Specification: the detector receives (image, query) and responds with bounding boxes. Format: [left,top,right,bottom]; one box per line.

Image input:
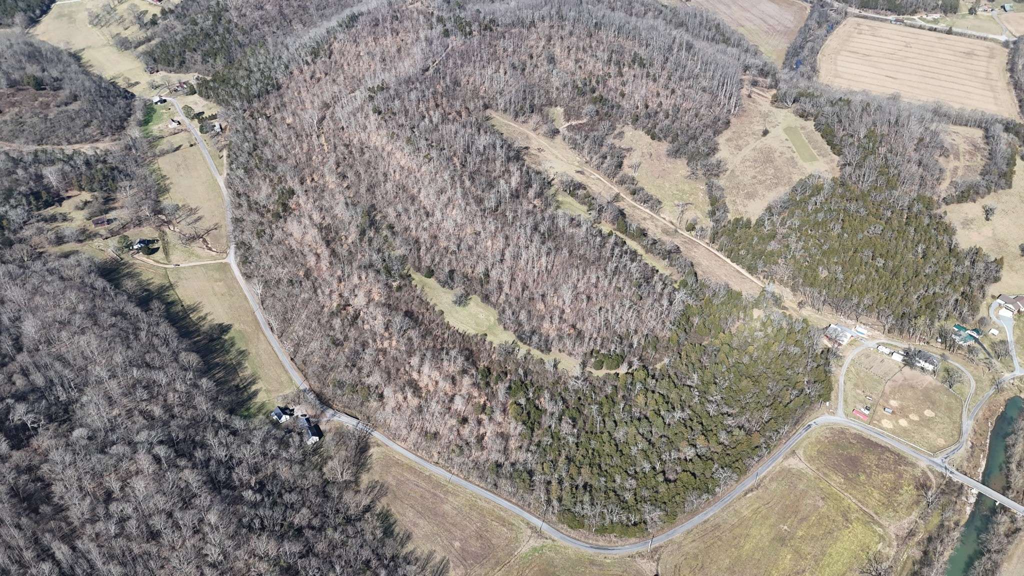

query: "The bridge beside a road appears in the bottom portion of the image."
[944,465,1024,517]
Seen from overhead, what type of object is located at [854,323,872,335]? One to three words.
vehicle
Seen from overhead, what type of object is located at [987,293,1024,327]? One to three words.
house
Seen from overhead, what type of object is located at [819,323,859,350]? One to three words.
barn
